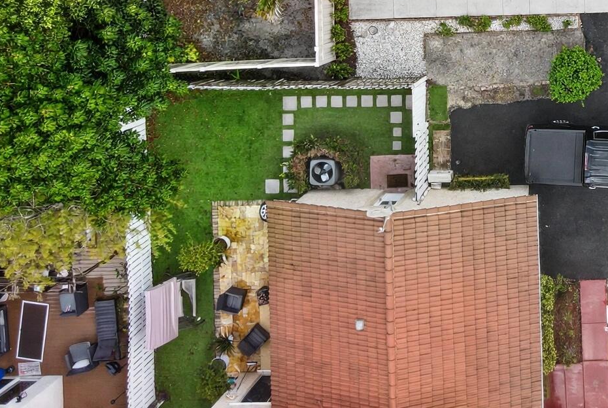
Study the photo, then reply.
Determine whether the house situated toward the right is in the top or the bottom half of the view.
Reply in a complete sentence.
The bottom half of the photo is where the house situated toward the right is.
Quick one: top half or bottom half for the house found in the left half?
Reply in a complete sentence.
It is in the bottom half that the house found in the left half appears.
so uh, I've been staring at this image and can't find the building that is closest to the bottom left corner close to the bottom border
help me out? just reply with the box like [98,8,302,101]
[0,377,62,408]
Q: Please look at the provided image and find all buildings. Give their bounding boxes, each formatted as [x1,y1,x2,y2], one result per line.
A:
[0,377,62,408]
[200,185,539,408]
